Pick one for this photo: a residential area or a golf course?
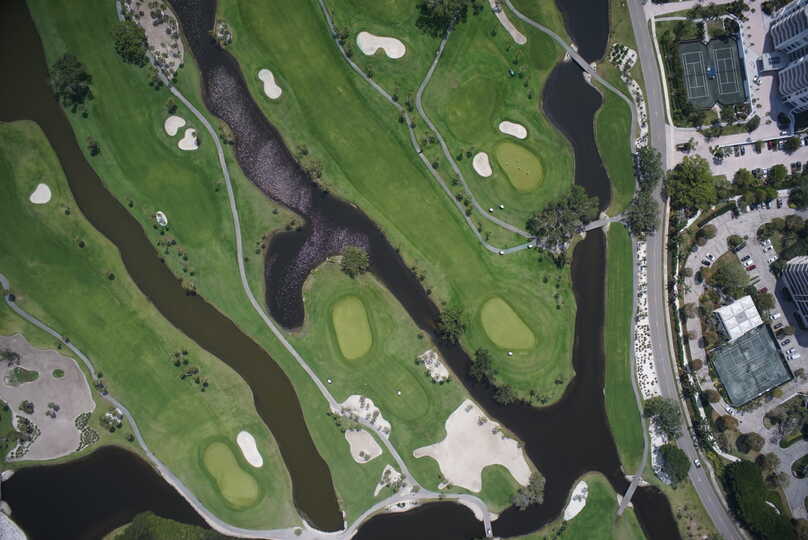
golf course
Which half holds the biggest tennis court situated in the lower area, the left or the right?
right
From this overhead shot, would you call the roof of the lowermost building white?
Yes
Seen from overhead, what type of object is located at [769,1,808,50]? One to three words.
building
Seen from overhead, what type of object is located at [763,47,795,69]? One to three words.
building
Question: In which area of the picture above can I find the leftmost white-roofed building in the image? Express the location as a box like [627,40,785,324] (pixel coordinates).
[712,294,763,339]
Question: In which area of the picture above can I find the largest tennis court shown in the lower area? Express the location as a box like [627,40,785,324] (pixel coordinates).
[713,326,792,406]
